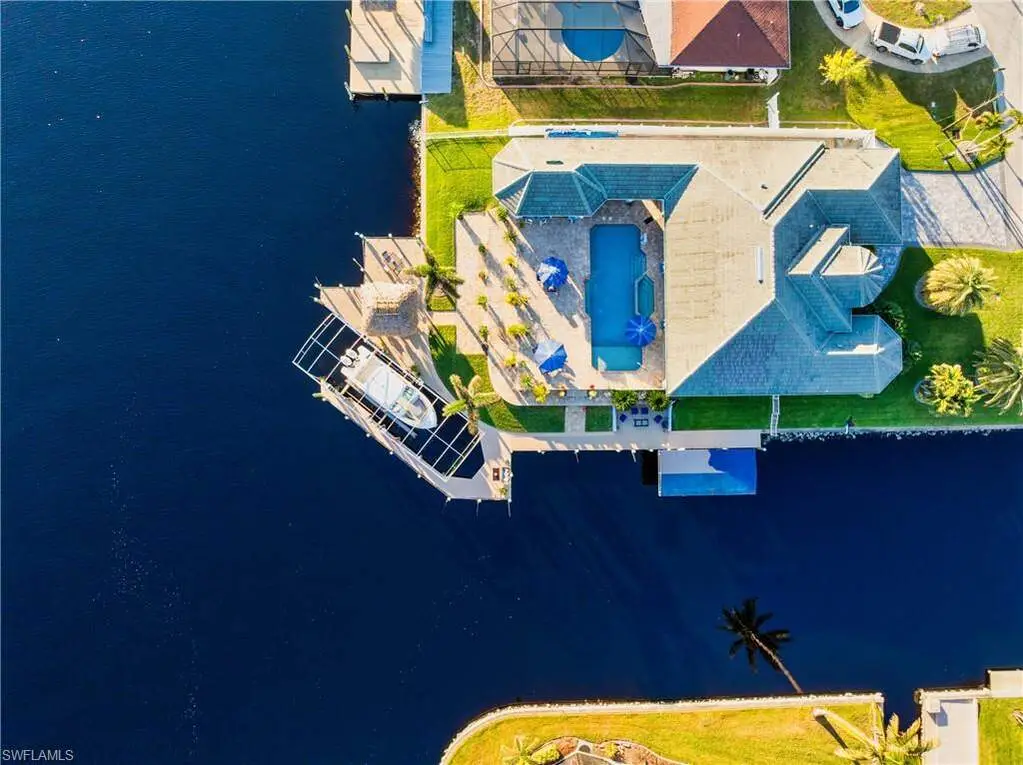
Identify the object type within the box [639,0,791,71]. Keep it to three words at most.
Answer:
house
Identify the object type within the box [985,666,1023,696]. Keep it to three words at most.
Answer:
pier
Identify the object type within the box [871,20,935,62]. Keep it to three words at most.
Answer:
truck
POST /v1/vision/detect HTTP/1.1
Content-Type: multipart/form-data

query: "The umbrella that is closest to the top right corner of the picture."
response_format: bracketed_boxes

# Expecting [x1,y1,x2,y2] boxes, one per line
[623,315,655,347]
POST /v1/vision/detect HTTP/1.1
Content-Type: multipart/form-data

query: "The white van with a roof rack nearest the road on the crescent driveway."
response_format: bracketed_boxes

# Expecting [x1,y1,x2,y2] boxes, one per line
[931,21,989,57]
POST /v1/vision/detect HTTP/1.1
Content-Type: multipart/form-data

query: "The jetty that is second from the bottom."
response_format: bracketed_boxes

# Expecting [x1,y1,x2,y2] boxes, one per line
[321,382,511,499]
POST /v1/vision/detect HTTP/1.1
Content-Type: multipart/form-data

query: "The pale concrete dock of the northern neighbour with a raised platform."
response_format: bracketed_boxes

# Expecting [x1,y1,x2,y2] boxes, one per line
[350,0,421,96]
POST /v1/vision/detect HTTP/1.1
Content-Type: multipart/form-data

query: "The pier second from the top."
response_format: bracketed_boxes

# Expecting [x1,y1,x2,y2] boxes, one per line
[319,238,421,366]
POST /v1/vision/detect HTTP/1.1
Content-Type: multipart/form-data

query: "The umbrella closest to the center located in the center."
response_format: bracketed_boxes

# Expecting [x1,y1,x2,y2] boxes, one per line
[533,340,565,372]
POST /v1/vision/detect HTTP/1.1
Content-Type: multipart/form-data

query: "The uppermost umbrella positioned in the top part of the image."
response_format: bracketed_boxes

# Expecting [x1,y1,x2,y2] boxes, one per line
[536,259,568,290]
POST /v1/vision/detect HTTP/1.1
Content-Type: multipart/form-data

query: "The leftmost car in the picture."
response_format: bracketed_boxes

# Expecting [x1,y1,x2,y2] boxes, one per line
[832,0,863,30]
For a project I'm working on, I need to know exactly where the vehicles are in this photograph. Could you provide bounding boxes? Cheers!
[931,21,989,57]
[832,0,863,30]
[871,20,935,62]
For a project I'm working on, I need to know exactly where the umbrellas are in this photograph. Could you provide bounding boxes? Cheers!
[623,315,655,347]
[536,259,568,290]
[533,340,565,372]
